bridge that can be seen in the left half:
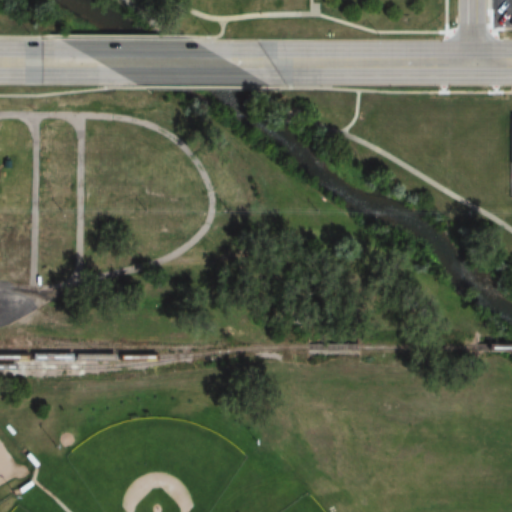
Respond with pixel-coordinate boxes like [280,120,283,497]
[50,35,276,90]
